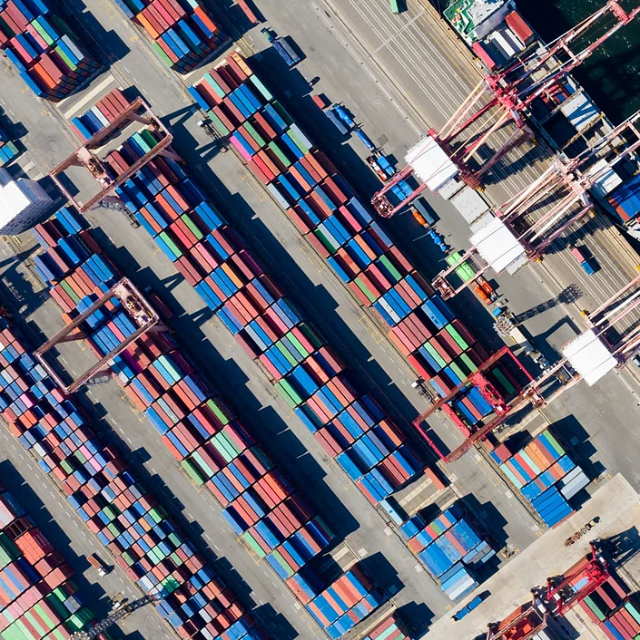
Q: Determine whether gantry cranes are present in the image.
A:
Yes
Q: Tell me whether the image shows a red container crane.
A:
Yes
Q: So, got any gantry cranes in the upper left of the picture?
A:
Yes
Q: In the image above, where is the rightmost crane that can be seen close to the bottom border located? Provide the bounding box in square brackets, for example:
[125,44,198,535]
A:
[540,536,610,620]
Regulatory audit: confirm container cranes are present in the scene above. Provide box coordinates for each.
[34,276,166,394]
[360,0,640,225]
[425,105,640,305]
[484,582,552,640]
[540,536,610,620]
[412,344,535,462]
[48,94,195,216]
[519,262,640,416]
